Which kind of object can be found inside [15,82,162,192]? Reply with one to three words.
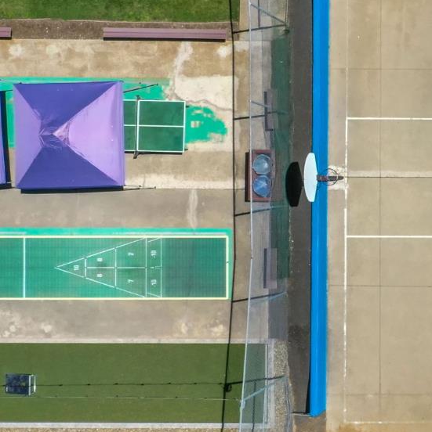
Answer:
tent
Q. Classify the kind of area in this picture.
sports ground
